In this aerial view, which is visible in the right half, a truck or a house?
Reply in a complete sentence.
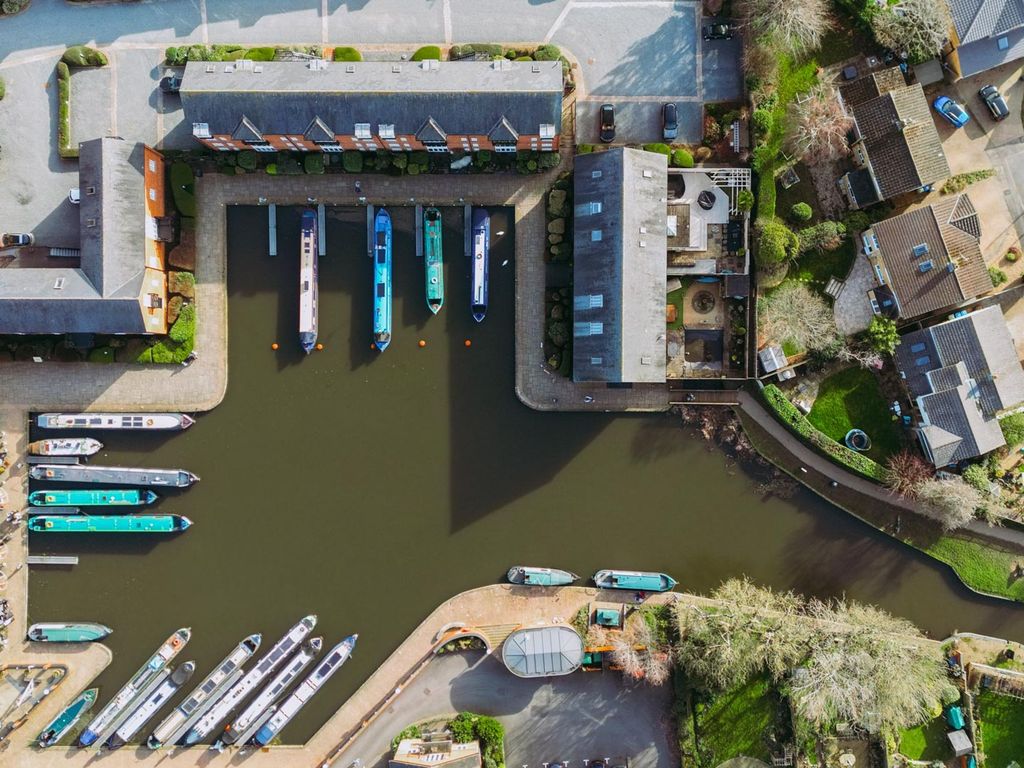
The feature located in the right half is a house.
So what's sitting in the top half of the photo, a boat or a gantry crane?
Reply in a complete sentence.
You can see a boat in the top half of the photo.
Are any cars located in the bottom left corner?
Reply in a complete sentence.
No, I see no car in the bottom left corner.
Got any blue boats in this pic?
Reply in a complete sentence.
Yes, a blue boat is visible in the scene.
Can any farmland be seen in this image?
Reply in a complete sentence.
No, there's no farmland in this view.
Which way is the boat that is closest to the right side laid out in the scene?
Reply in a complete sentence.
Seen from above, the boat that is closest to the right side lies from side to side.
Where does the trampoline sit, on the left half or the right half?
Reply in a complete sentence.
The trampoline appears in the right half of the scene.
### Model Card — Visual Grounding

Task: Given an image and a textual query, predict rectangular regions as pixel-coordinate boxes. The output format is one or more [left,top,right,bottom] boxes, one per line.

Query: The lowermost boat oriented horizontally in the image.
[26,621,114,642]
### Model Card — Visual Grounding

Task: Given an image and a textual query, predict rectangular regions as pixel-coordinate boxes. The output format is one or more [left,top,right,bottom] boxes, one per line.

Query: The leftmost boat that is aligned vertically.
[300,207,319,355]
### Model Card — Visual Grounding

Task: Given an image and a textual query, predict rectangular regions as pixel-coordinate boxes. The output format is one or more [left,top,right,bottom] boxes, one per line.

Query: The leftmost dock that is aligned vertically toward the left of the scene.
[267,206,279,255]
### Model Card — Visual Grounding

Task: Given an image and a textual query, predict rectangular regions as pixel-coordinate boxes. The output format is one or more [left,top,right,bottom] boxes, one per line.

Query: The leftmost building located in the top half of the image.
[0,134,178,348]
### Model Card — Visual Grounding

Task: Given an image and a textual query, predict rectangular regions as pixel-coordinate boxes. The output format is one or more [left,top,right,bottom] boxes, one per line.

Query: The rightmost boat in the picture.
[594,570,679,590]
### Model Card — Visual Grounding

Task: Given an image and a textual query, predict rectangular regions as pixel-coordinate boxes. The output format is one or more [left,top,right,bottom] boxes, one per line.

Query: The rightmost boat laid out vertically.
[470,208,489,324]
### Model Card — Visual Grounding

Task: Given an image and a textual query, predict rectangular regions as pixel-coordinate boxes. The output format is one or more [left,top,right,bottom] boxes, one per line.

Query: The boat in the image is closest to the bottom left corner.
[36,688,100,750]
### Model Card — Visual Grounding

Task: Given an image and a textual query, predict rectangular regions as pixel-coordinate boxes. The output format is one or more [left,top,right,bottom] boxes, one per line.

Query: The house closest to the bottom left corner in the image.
[380,719,481,768]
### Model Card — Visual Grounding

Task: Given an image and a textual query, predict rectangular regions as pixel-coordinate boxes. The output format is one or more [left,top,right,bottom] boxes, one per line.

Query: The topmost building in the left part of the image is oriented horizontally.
[181,60,563,155]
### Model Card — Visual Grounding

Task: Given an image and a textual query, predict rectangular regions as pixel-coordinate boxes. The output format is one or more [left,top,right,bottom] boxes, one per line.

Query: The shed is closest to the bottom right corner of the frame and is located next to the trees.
[941,727,971,754]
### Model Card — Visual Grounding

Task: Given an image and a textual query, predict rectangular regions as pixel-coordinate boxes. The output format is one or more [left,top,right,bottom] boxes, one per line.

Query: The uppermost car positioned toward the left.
[155,69,187,88]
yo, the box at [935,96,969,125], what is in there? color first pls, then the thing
blue car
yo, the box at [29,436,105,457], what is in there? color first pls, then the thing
white boat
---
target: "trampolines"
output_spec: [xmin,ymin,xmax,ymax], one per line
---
[844,428,874,451]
